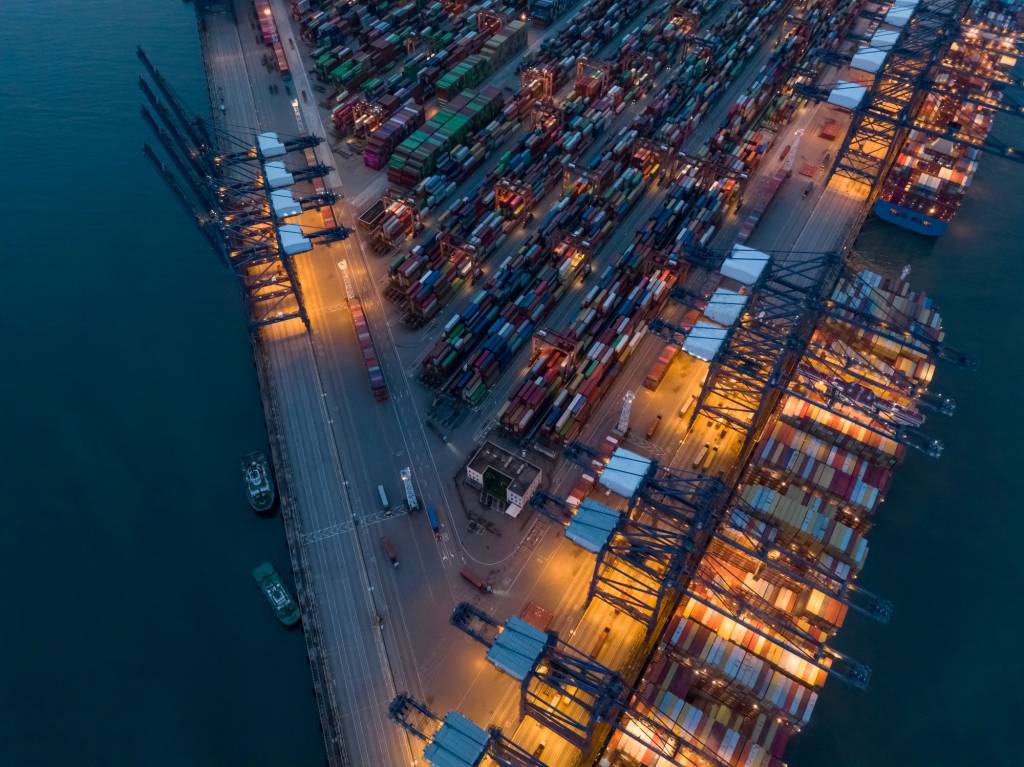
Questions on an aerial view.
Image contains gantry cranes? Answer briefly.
Yes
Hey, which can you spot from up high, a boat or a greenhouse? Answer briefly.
boat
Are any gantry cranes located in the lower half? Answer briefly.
Yes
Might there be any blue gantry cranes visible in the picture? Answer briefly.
Yes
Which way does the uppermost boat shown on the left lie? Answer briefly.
up and down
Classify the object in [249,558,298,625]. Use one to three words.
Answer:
boat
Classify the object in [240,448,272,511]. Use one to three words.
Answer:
boat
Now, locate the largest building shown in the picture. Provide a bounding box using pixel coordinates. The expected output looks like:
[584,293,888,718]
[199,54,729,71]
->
[466,440,542,515]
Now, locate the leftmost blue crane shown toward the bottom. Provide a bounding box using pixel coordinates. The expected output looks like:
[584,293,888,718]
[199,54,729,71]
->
[382,688,535,767]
